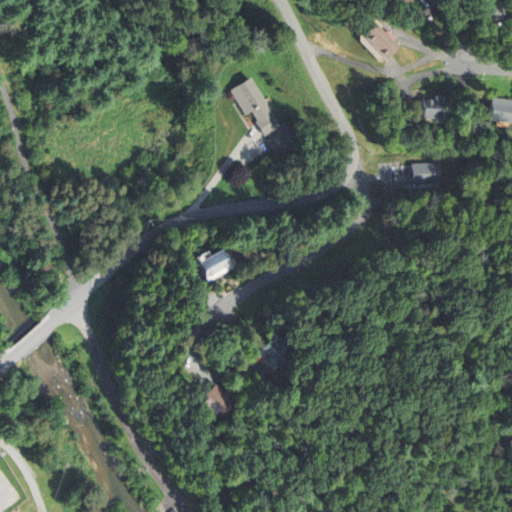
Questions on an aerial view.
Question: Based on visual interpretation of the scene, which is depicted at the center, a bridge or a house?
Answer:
house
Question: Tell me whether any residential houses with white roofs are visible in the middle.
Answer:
Yes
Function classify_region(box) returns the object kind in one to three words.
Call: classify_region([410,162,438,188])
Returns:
building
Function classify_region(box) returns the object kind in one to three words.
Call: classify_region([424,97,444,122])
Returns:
house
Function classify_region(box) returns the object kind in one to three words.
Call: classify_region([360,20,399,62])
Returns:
house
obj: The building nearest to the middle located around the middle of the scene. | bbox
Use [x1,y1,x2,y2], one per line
[200,250,233,282]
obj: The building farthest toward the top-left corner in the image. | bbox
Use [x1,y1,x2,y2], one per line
[230,77,278,134]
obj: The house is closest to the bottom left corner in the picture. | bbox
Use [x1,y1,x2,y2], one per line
[206,384,230,415]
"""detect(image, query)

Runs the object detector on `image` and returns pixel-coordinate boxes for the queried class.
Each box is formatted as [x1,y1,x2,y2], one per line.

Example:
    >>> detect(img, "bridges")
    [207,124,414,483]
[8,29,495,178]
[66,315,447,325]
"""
[4,305,66,364]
